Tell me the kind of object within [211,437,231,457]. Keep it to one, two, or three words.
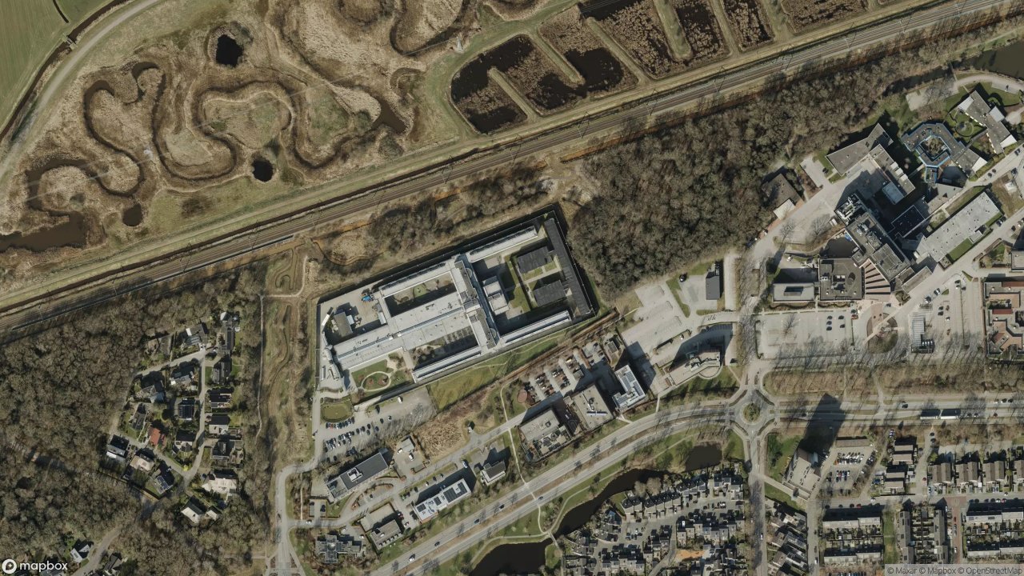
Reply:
house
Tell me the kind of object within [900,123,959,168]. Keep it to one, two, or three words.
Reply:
building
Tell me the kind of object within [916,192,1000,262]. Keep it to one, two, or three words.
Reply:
building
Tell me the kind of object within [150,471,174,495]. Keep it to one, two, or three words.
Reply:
house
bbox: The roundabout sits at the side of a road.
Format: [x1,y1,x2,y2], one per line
[731,381,772,446]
